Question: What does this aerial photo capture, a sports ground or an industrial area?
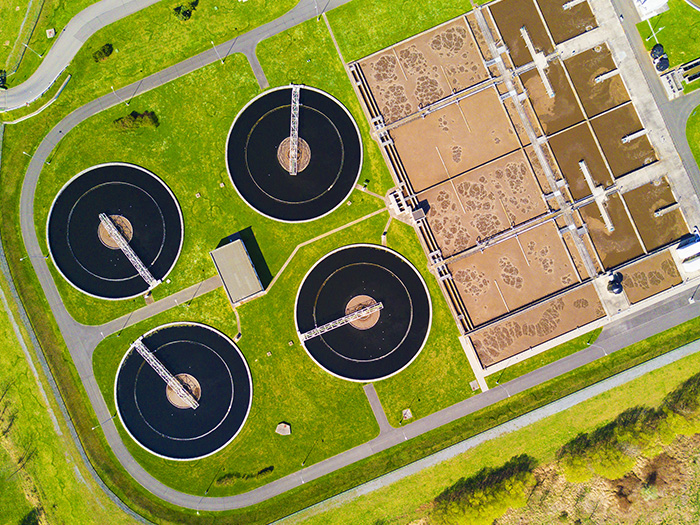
industrial area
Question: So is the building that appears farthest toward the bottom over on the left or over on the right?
left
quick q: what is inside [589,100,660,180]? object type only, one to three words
storage tank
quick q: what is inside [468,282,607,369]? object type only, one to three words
storage tank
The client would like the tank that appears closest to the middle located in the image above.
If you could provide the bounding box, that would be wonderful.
[295,243,432,381]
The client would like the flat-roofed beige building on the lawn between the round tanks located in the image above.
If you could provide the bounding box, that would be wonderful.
[211,239,266,303]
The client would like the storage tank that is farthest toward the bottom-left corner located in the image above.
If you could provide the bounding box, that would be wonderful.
[115,322,253,460]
